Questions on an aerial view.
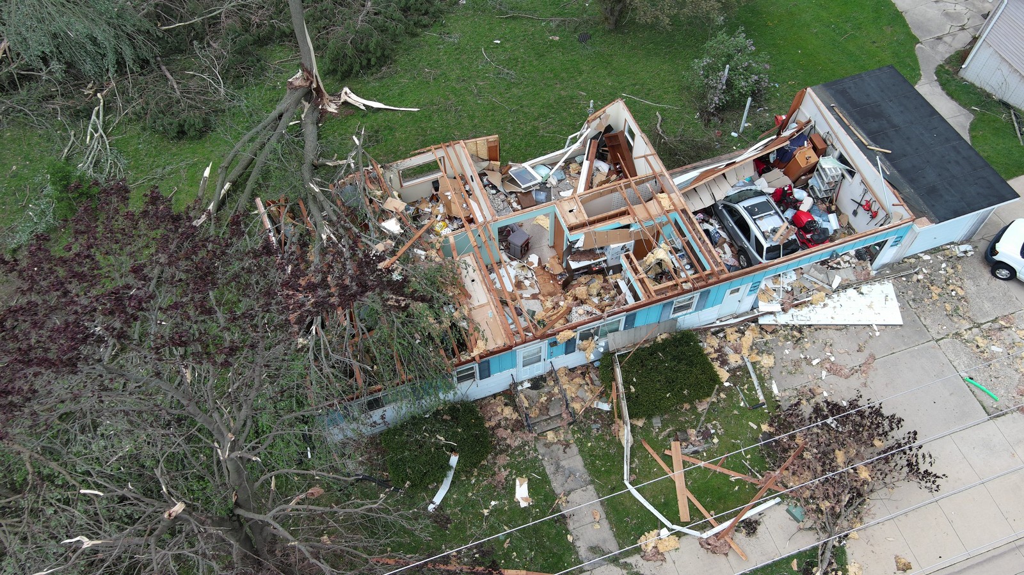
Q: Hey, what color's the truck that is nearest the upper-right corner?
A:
white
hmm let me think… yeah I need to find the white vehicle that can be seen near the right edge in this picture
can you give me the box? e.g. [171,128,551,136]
[978,224,1024,288]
